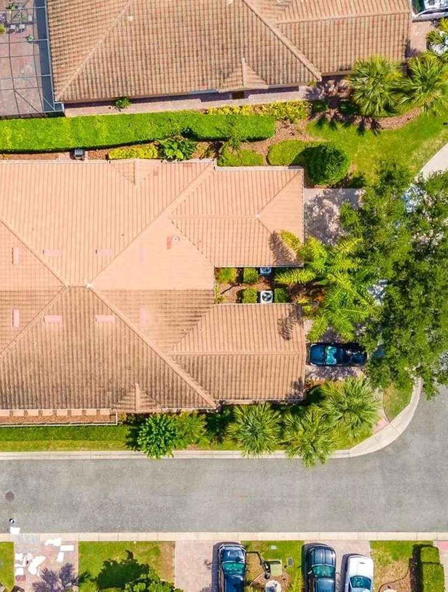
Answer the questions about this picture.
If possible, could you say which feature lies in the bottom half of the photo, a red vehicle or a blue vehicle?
blue vehicle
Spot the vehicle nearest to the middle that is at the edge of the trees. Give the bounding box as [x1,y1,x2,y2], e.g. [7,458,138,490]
[309,343,365,367]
